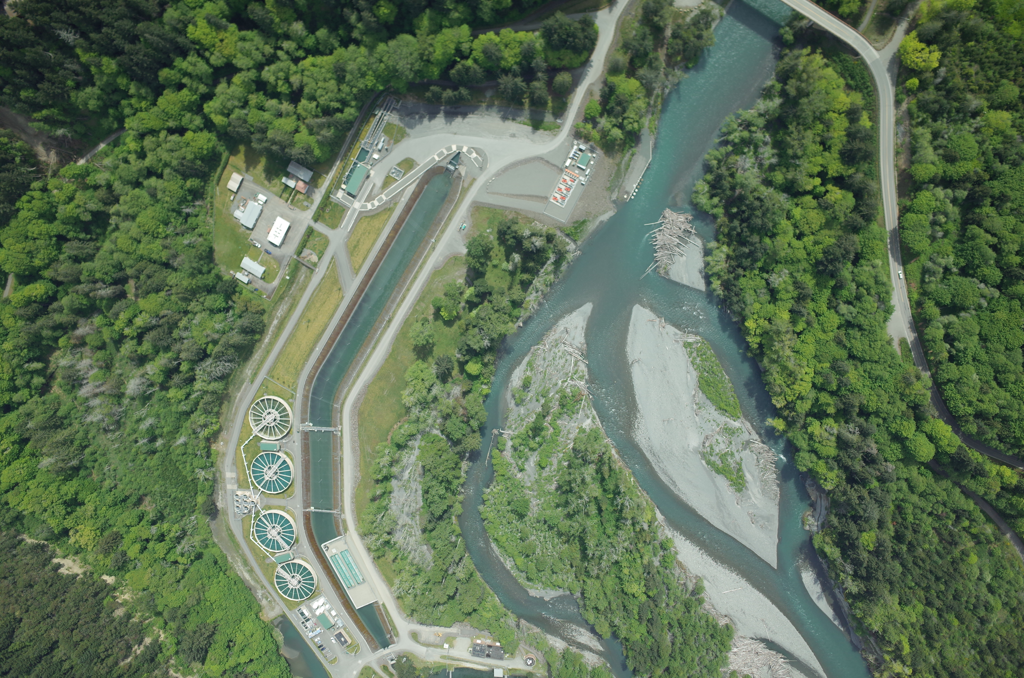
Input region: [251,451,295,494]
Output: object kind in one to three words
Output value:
storage tank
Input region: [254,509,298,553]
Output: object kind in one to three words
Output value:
storage tank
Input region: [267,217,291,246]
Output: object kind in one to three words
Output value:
building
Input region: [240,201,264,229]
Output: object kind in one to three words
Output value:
building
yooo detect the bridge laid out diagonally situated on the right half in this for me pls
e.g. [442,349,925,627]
[782,0,871,54]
